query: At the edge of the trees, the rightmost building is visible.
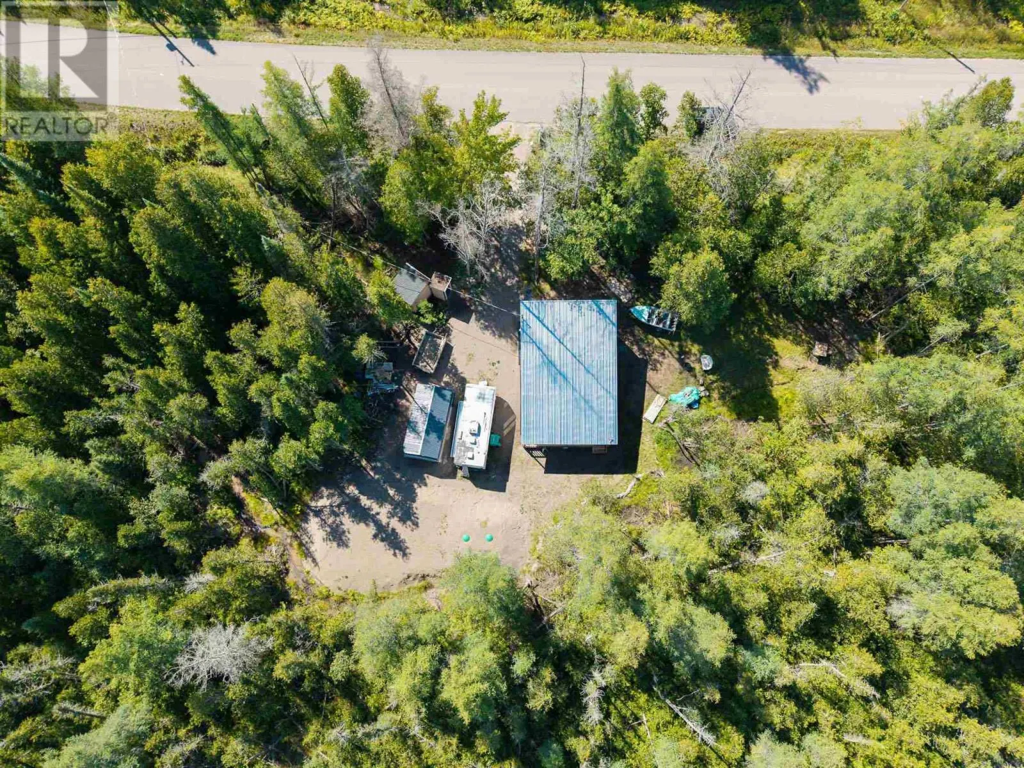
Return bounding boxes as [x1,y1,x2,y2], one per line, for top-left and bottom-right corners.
[520,298,618,461]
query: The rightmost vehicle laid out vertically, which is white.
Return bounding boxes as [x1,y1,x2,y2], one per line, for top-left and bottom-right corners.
[450,382,498,482]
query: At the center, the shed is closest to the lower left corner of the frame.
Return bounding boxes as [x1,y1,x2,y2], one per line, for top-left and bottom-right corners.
[404,385,455,462]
